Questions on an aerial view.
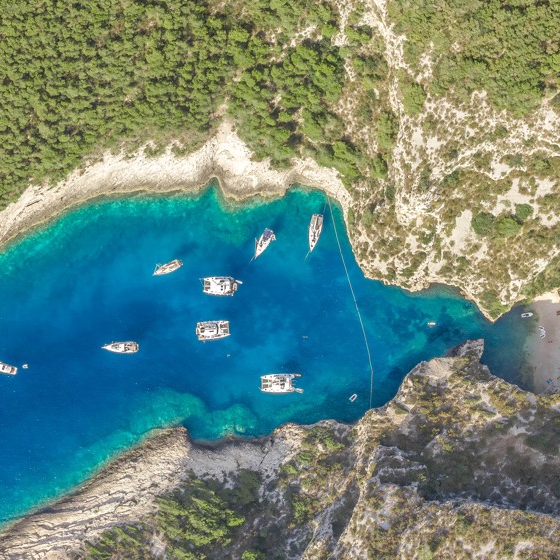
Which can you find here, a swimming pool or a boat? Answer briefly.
boat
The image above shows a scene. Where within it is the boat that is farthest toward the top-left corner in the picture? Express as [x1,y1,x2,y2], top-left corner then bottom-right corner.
[155,259,184,275]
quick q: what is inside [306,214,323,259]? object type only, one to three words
boat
